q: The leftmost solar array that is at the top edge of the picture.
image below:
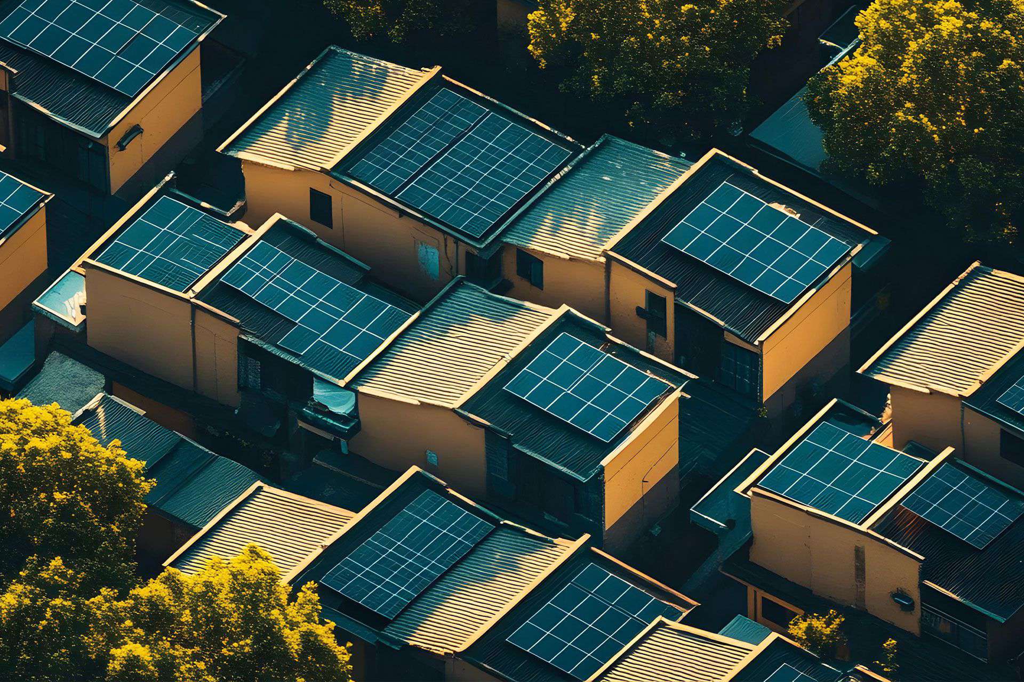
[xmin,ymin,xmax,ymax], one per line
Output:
[3,0,206,96]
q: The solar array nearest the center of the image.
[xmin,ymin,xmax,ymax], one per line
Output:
[505,330,672,442]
